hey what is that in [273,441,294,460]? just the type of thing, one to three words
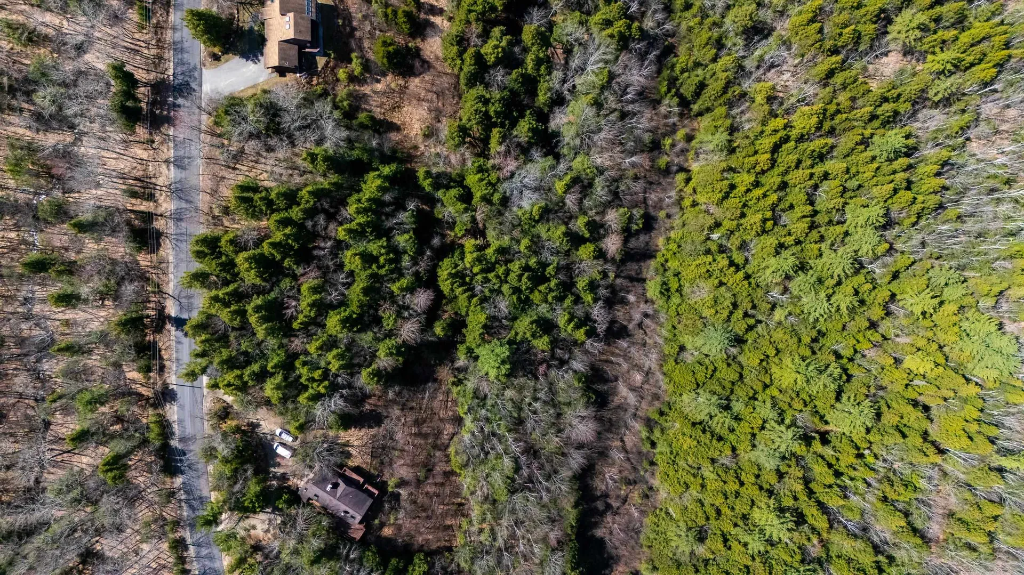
vehicle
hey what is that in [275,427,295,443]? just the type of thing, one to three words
car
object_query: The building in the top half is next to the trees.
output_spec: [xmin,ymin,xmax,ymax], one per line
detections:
[260,0,325,75]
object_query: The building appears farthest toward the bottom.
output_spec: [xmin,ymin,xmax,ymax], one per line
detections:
[299,466,380,541]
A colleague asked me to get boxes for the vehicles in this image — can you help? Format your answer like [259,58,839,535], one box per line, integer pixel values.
[275,427,295,443]
[273,441,294,460]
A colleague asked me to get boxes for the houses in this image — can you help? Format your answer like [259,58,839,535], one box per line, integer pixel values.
[260,0,325,75]
[299,466,380,541]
